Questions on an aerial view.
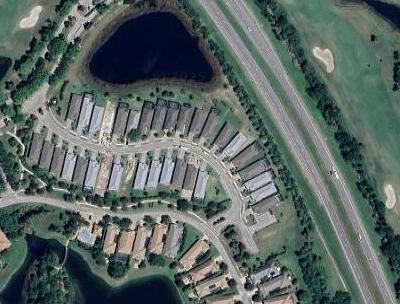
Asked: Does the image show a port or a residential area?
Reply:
residential area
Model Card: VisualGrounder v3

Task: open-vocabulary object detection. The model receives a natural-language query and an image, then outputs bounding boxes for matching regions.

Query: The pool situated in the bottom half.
[78,227,96,244]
